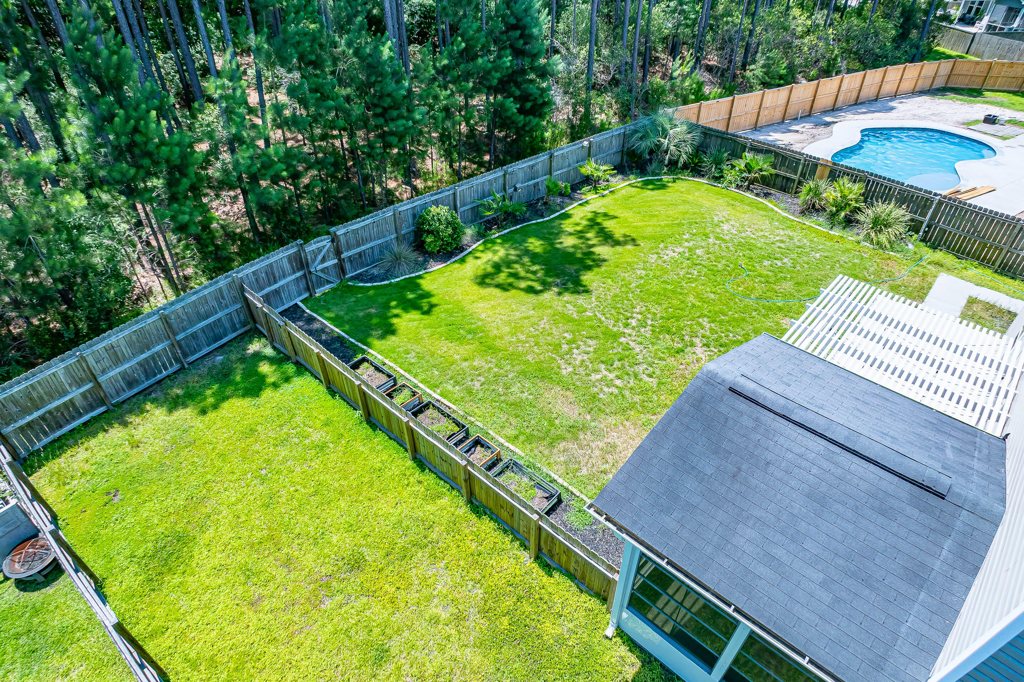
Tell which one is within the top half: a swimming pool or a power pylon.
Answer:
swimming pool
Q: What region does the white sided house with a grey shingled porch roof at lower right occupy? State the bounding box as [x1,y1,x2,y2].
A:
[585,330,1024,682]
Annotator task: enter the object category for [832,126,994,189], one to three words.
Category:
swimming pool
